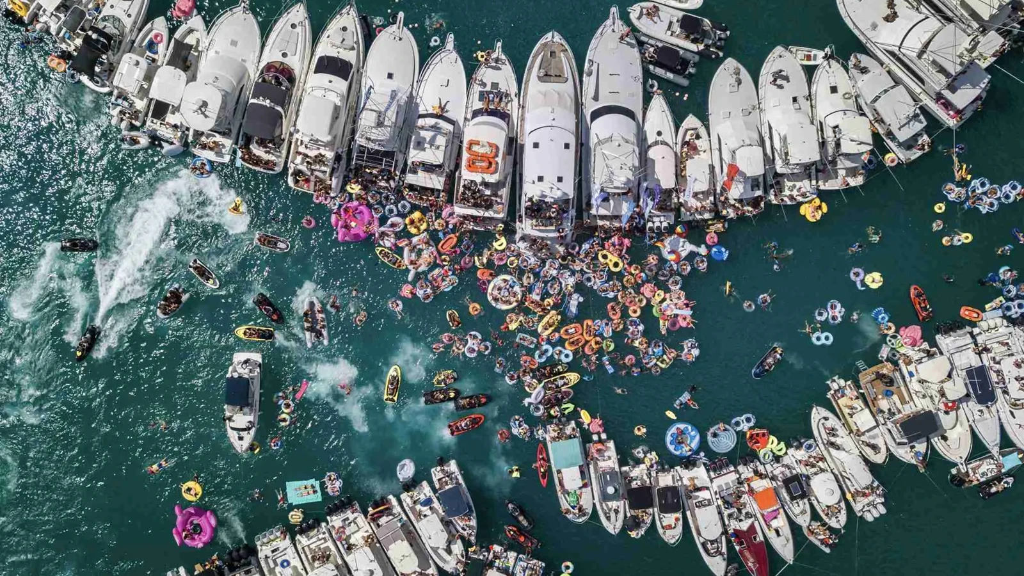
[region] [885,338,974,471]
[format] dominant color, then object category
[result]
white boat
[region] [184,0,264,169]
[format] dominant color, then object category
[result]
white boat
